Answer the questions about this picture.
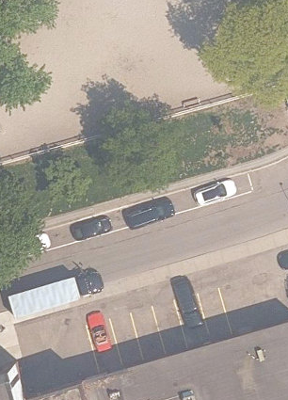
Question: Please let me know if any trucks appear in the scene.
Yes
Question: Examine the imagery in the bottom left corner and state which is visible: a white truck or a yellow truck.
white truck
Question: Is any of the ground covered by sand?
Yes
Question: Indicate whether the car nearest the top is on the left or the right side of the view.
right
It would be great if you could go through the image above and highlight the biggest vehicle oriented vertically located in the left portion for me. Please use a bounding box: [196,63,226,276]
[86,310,110,353]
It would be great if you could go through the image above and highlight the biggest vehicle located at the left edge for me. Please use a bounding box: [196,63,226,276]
[8,273,103,321]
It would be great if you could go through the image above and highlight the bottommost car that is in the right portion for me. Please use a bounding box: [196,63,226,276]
[172,274,201,328]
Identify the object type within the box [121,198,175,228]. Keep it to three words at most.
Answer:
car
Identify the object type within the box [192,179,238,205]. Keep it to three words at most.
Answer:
car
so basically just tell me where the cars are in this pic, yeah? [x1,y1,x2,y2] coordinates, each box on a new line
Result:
[192,179,238,205]
[121,198,175,228]
[86,310,110,353]
[276,250,288,269]
[68,215,113,241]
[172,274,201,328]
